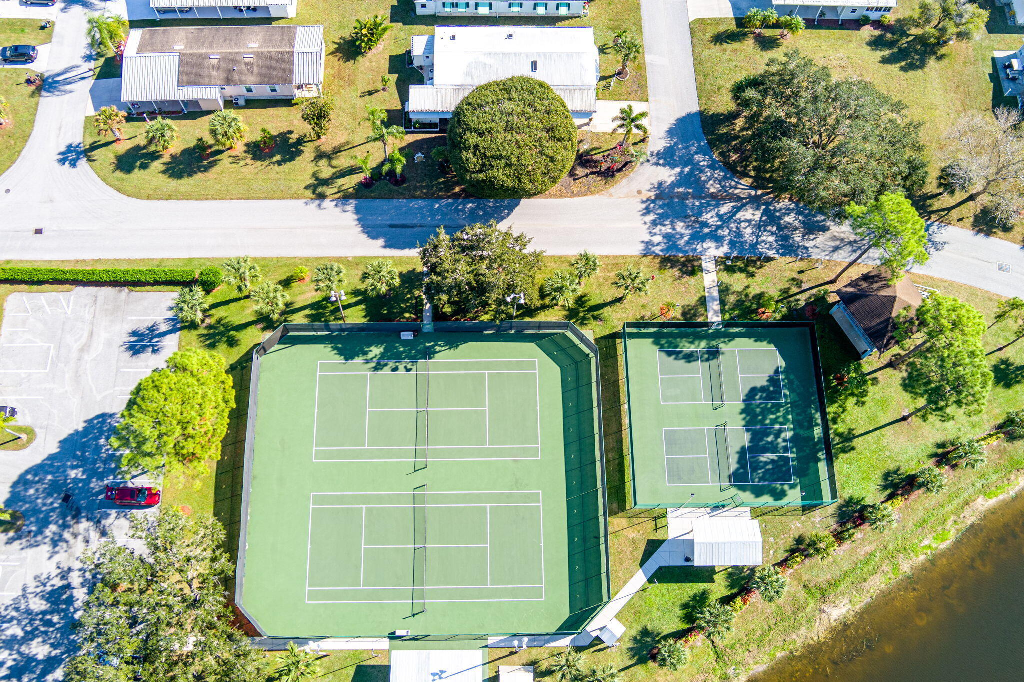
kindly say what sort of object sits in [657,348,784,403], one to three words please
sports court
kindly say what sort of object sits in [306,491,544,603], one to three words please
tennis court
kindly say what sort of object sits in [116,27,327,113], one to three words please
house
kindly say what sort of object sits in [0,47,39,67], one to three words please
car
